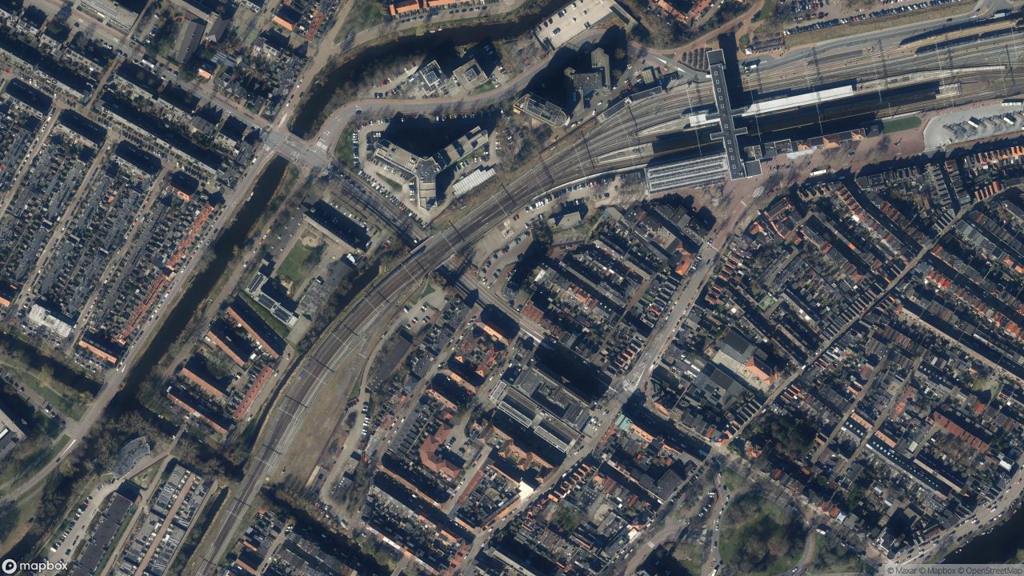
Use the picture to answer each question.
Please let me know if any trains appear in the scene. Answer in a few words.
Yes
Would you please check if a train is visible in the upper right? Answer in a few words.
Yes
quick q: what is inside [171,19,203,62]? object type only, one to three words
building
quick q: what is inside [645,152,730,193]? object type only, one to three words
shed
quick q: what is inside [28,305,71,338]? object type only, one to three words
building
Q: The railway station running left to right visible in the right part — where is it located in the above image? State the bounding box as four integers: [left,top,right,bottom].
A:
[531,48,1006,201]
